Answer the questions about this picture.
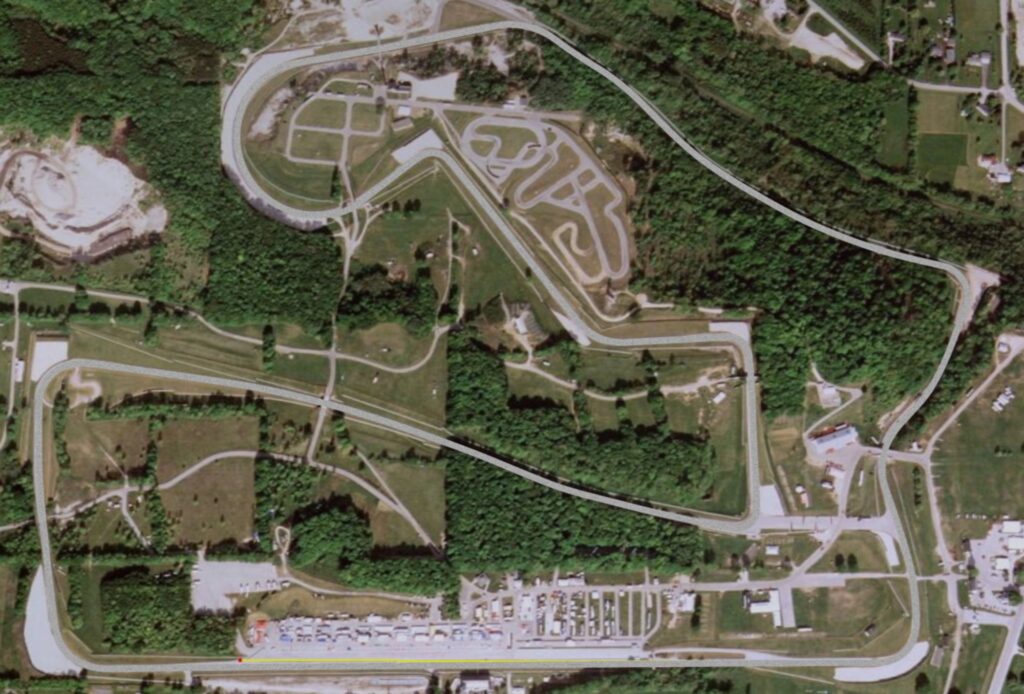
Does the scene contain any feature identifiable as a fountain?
No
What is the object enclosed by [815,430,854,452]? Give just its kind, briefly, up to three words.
building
